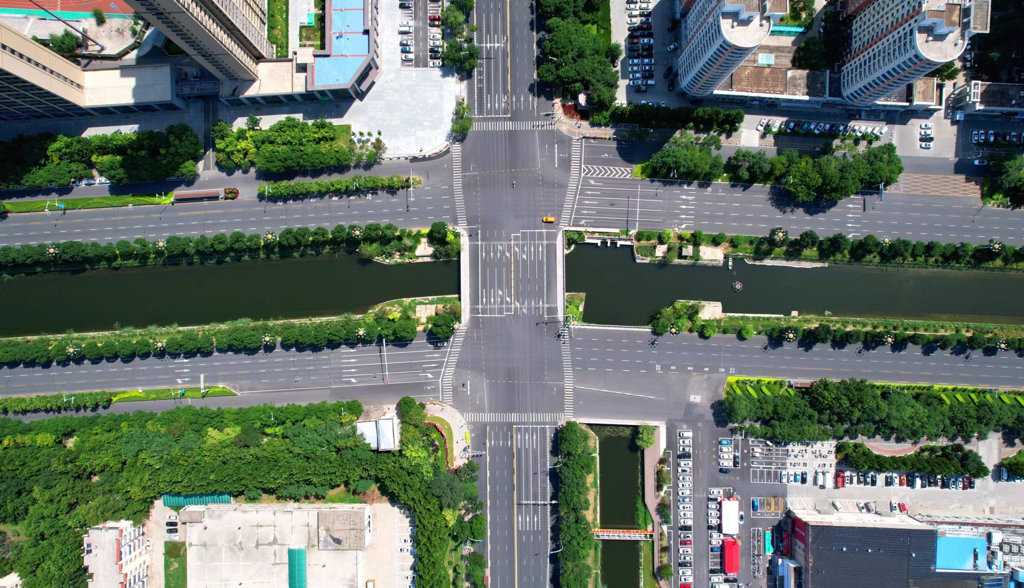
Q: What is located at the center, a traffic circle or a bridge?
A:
bridge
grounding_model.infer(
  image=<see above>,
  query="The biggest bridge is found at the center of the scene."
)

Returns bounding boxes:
[460,227,566,329]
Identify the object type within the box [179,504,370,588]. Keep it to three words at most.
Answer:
building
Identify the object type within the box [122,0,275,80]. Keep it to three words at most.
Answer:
building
